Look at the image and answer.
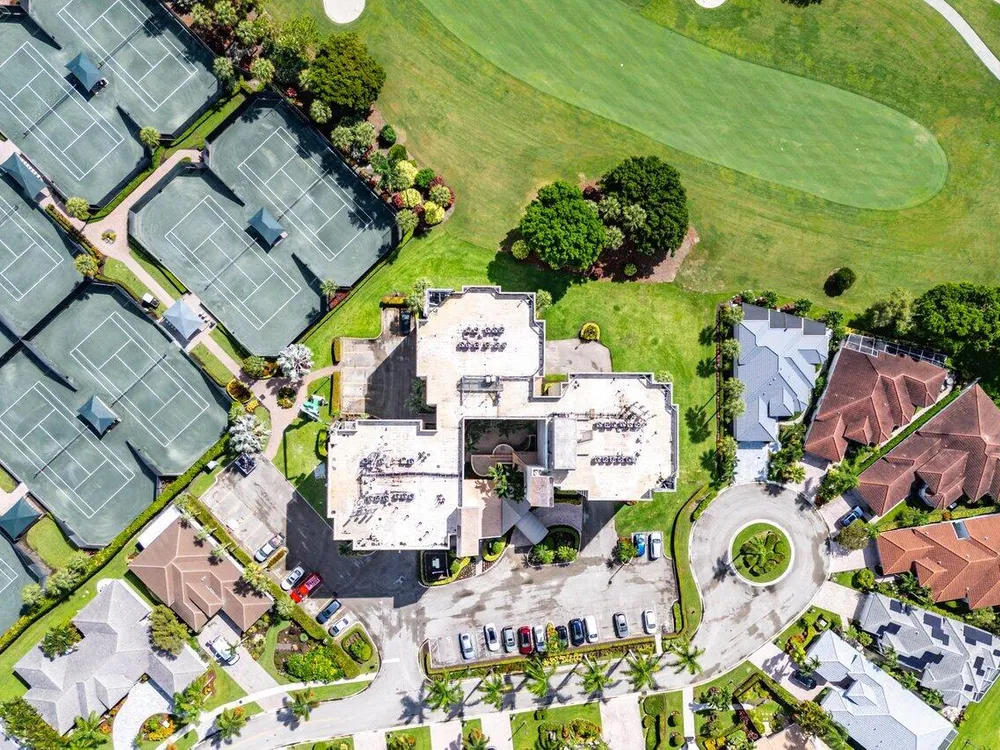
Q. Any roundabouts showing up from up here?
Yes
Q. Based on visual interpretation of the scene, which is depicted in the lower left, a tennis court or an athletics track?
tennis court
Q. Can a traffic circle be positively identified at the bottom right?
Yes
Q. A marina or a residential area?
residential area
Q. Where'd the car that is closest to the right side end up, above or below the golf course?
below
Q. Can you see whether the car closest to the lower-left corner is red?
No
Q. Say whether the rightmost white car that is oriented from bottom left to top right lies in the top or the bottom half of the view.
bottom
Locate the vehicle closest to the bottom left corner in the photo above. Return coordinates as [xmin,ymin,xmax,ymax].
[209,635,235,664]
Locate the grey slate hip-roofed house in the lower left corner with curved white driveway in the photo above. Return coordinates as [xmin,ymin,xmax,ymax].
[14,577,208,735]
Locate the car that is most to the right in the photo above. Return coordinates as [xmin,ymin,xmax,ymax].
[838,504,865,525]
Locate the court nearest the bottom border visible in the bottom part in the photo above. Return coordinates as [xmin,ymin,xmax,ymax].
[0,540,36,633]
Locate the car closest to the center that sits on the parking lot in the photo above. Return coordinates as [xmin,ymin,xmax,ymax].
[397,308,411,335]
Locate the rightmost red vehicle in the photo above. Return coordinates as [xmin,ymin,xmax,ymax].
[519,625,532,653]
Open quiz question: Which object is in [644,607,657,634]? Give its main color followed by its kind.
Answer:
white vehicle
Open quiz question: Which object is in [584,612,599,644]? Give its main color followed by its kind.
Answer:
white vehicle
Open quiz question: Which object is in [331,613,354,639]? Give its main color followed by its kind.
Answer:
white car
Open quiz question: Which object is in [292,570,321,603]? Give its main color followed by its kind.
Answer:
red truck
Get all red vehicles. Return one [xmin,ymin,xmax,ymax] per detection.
[519,625,532,653]
[292,570,321,603]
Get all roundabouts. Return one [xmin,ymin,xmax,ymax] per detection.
[728,519,795,586]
